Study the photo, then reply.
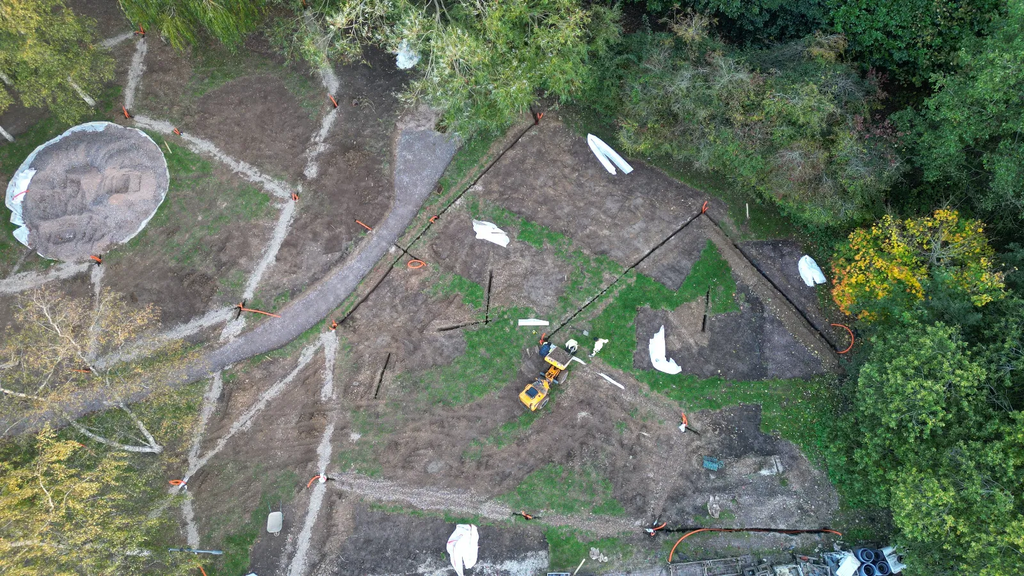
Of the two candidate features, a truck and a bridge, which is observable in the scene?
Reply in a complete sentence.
Of the two, only a truck appears.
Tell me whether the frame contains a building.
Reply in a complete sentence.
No, there appears to be no building in this shot.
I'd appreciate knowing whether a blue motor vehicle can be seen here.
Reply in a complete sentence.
No, this view has no blue motor vehicle in it.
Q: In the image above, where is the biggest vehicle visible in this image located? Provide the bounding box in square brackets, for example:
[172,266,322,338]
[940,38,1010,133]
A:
[515,343,573,411]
